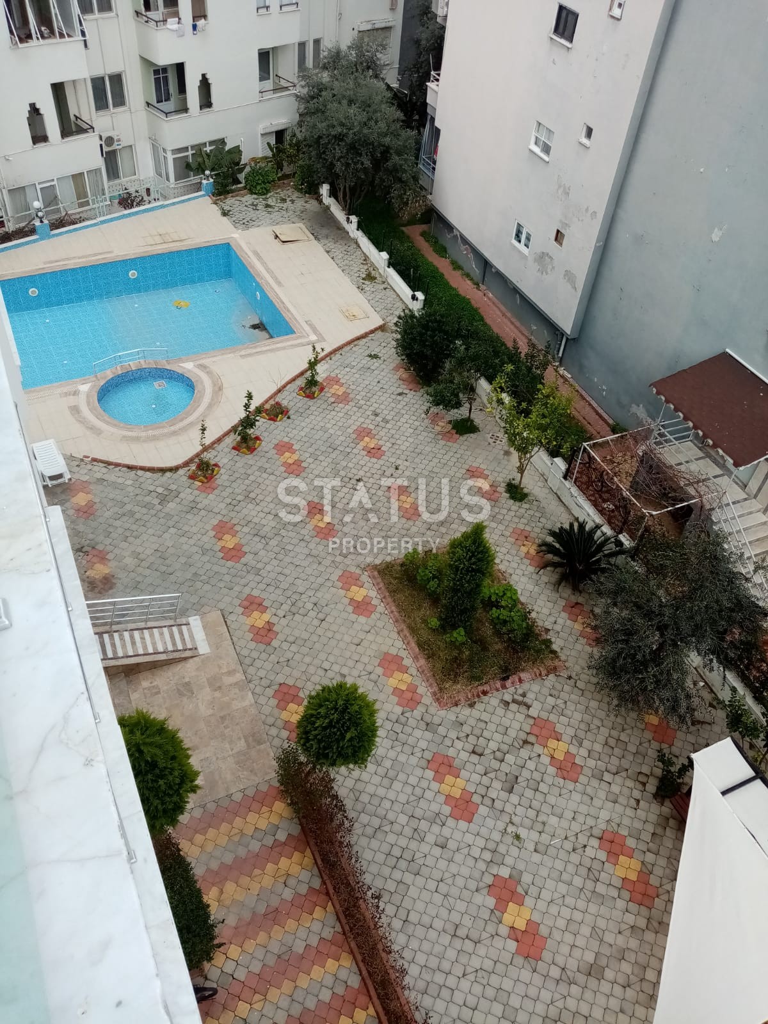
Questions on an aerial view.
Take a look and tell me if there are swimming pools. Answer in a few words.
Yes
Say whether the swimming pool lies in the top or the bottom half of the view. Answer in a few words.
top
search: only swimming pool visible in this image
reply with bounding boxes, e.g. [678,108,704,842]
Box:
[2,234,320,447]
